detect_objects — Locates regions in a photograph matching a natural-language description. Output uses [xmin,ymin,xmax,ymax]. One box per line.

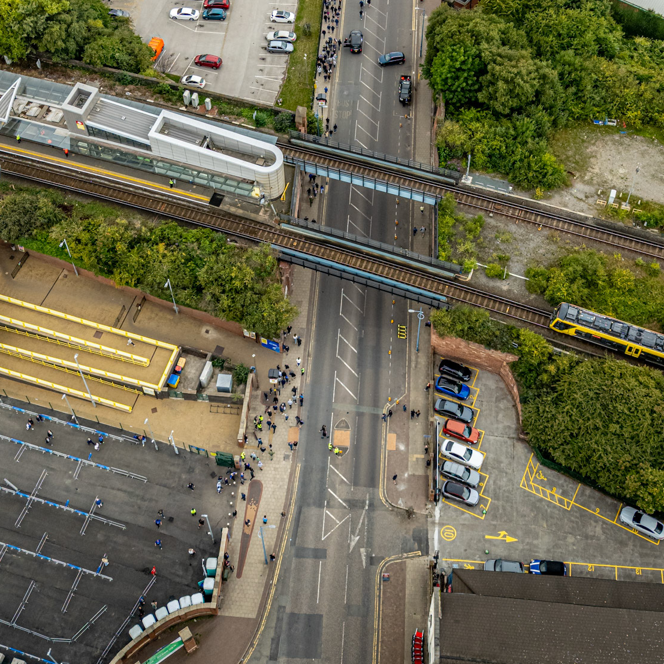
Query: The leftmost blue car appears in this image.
[203,8,227,23]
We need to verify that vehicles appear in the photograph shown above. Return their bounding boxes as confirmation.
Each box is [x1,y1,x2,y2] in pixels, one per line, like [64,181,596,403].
[484,556,524,574]
[204,0,229,11]
[267,41,294,55]
[397,78,414,105]
[203,8,227,23]
[527,556,568,577]
[147,40,168,64]
[435,398,476,427]
[340,32,366,56]
[436,358,472,384]
[439,459,482,490]
[442,421,478,447]
[435,375,471,403]
[621,511,664,541]
[439,479,481,509]
[180,74,207,91]
[266,30,296,44]
[270,10,296,24]
[195,55,222,71]
[376,50,408,68]
[170,8,199,22]
[440,441,484,471]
